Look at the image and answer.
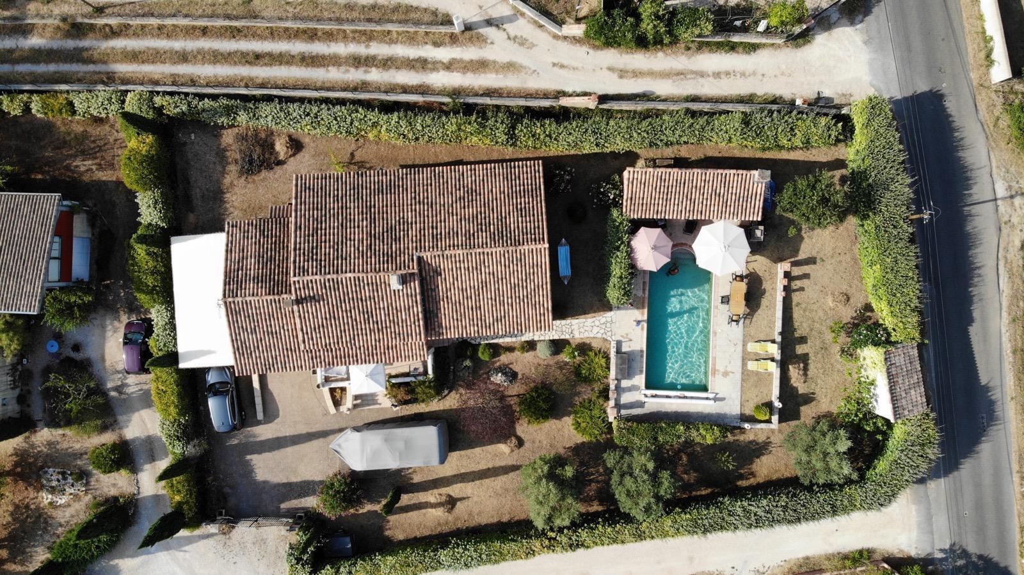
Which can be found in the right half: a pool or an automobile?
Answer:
pool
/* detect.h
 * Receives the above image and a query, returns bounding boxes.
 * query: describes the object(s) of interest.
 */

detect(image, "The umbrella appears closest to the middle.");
[629,229,671,271]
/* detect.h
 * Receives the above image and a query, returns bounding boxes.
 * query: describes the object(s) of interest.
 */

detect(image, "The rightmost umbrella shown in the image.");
[692,222,746,275]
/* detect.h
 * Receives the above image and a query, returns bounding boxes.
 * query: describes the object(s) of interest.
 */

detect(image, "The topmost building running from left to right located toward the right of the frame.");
[621,168,772,223]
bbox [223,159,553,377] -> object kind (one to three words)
house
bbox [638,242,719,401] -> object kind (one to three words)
swimming pool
